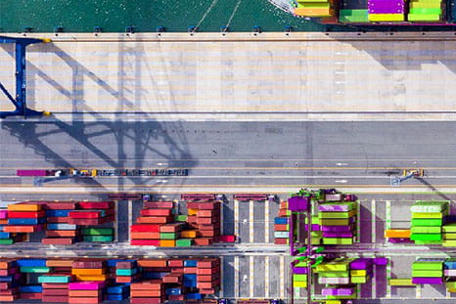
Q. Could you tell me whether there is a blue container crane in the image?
Yes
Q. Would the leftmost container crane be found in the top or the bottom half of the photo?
top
